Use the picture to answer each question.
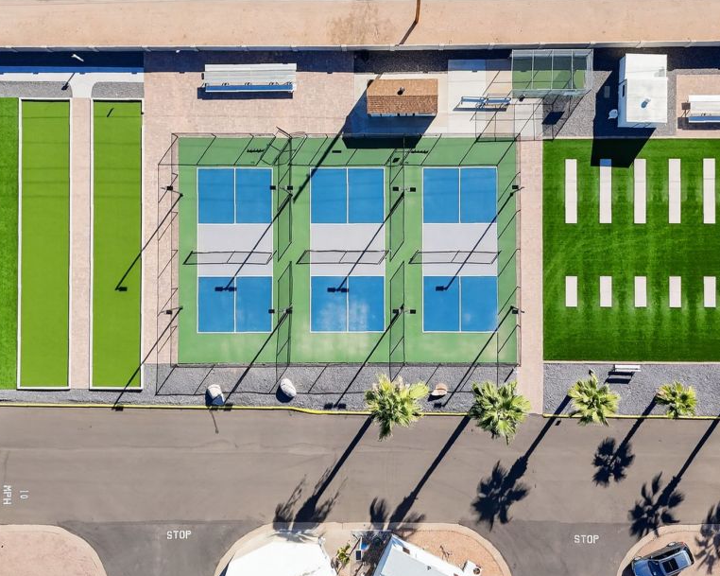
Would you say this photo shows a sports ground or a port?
sports ground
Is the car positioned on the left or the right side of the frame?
right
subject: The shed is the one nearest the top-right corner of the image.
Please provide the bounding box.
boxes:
[610,54,668,132]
